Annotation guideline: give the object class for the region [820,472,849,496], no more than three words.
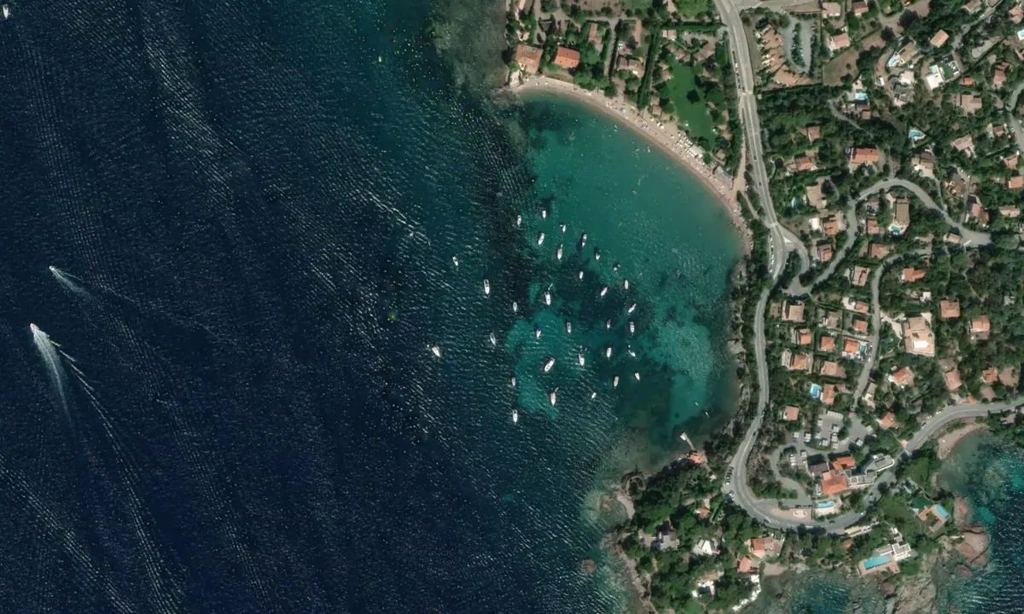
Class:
house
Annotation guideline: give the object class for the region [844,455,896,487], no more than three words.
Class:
building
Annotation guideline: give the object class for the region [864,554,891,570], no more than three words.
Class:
swimming pool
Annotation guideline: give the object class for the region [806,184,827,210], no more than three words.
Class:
house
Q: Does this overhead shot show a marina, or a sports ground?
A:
marina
